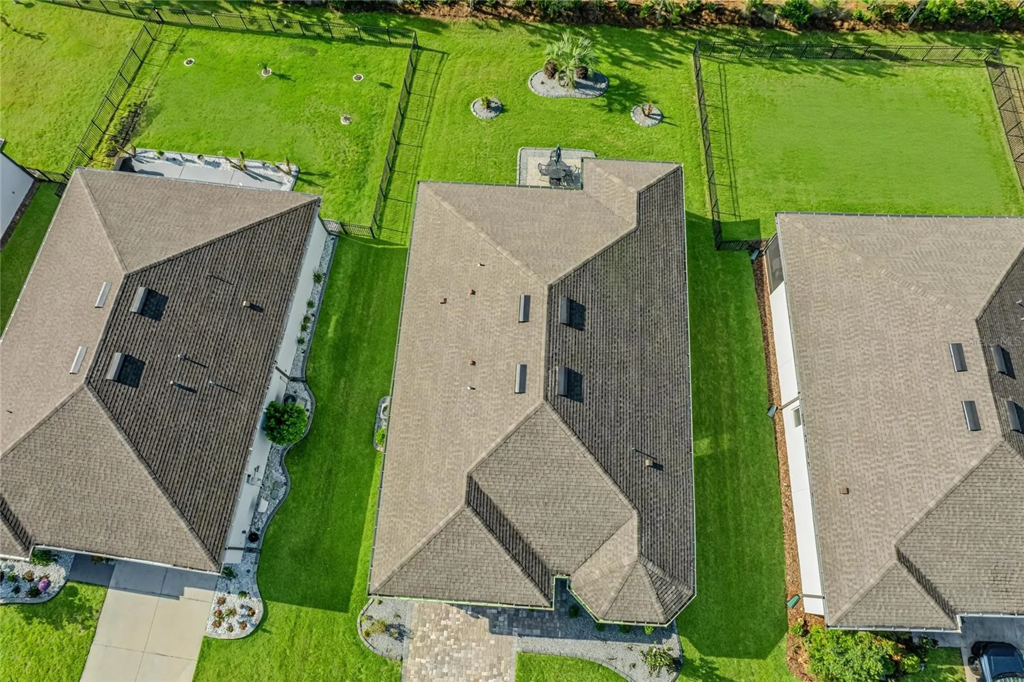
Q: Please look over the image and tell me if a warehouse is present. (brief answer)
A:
No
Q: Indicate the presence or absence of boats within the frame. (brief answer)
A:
No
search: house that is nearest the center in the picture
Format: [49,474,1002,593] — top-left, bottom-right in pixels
[367,158,697,626]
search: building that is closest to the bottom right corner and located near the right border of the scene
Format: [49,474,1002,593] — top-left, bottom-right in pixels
[757,213,1024,633]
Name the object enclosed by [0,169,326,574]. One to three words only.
house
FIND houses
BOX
[0,169,326,574]
[0,141,34,242]
[757,213,1024,633]
[367,158,697,626]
